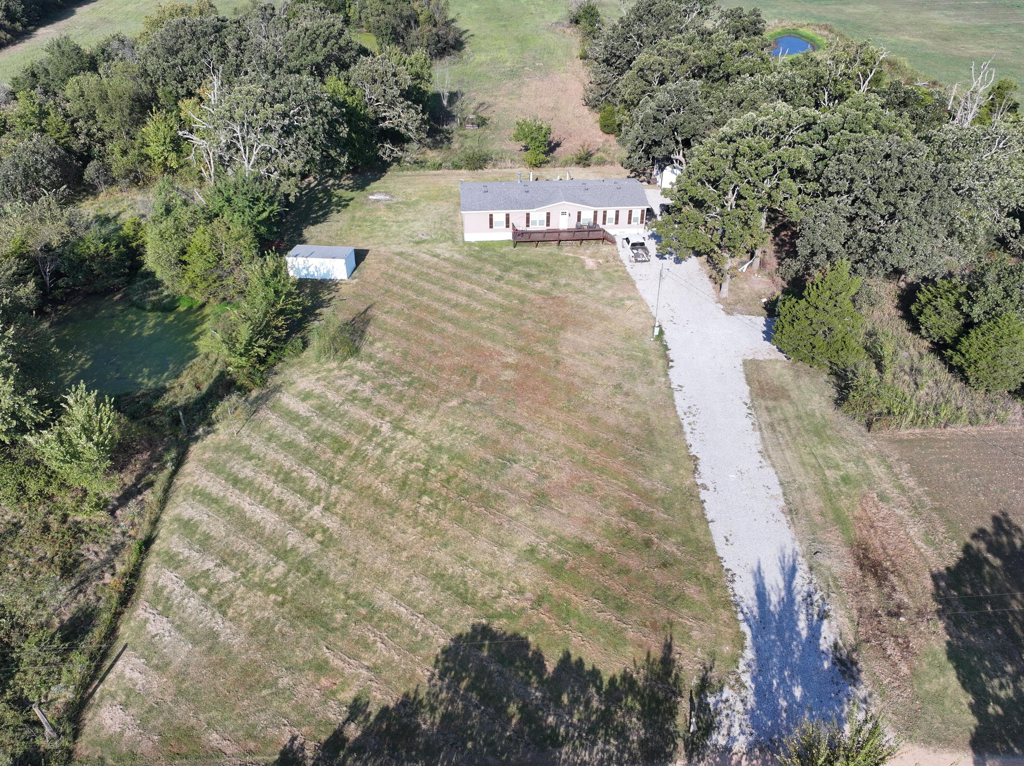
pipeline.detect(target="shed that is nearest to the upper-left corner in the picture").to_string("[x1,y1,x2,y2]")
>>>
[284,245,354,280]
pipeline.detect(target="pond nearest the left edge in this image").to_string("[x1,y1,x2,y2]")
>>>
[27,290,216,405]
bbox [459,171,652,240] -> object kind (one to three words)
house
